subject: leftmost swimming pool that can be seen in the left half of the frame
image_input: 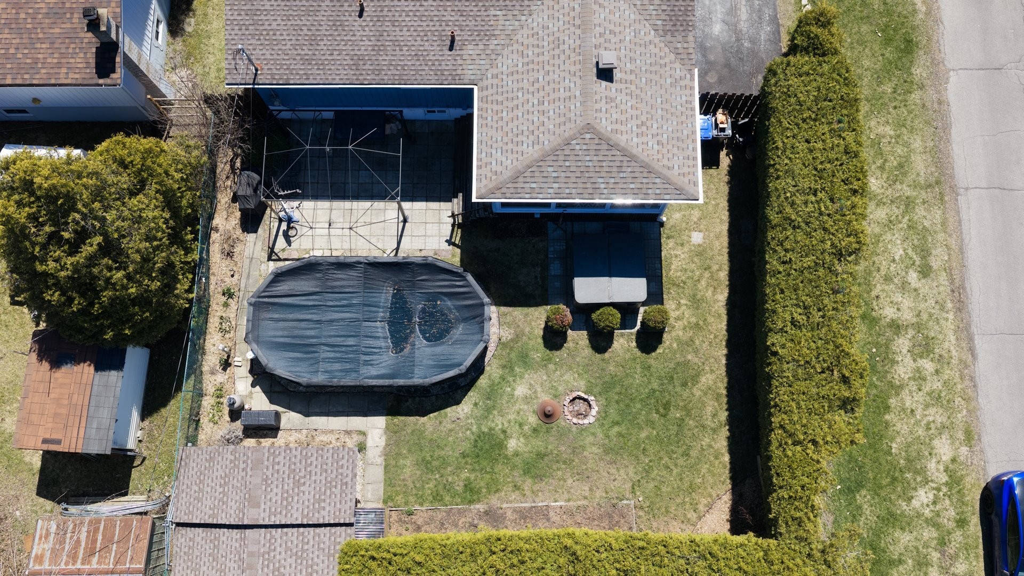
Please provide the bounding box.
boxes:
[245,254,491,390]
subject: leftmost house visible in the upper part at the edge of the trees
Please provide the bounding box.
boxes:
[0,0,170,121]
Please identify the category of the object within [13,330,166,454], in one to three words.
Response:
shed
